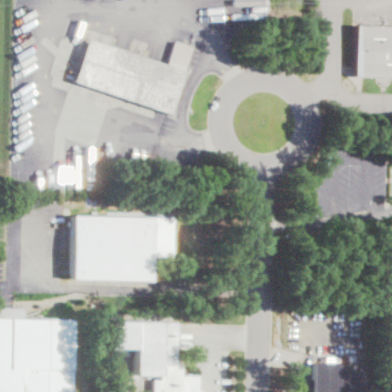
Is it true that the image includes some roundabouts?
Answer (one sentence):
No, I can't see a single roundabout in this photo.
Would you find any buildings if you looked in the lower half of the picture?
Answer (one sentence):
Yes, there is a building in the lower half of the picture.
